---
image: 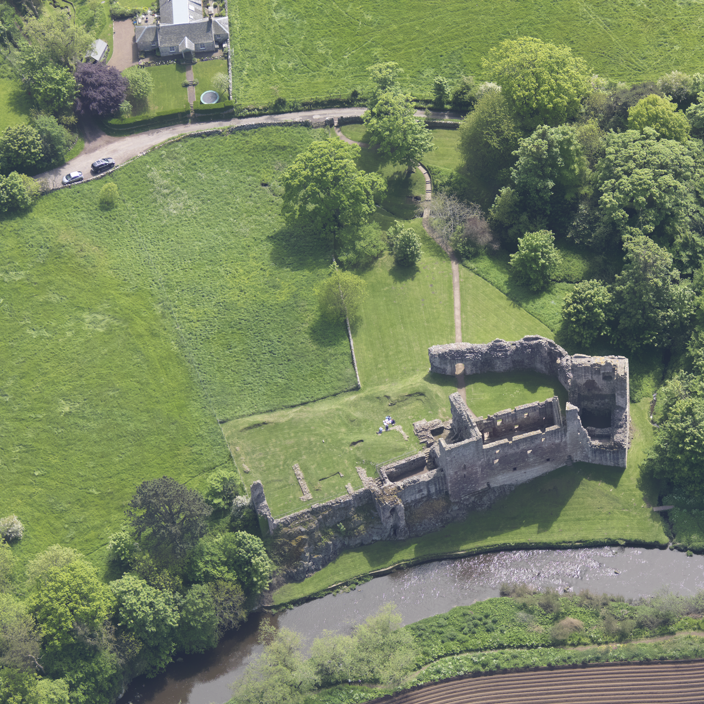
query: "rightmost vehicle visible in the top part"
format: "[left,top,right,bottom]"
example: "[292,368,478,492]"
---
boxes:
[90,156,116,172]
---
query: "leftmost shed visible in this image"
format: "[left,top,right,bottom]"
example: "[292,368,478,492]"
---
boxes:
[85,34,106,60]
